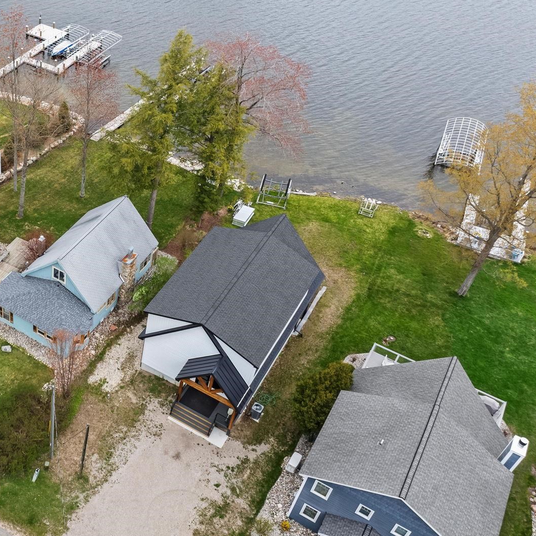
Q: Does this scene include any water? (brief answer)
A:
Yes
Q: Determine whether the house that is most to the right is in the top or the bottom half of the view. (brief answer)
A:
bottom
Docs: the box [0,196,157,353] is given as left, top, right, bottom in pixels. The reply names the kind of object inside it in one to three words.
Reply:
house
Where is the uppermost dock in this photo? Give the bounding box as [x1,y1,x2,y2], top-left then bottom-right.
[0,16,106,82]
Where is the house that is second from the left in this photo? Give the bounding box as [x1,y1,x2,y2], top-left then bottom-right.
[135,213,328,446]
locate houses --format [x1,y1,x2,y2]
[135,213,328,446]
[287,343,533,536]
[0,196,157,353]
